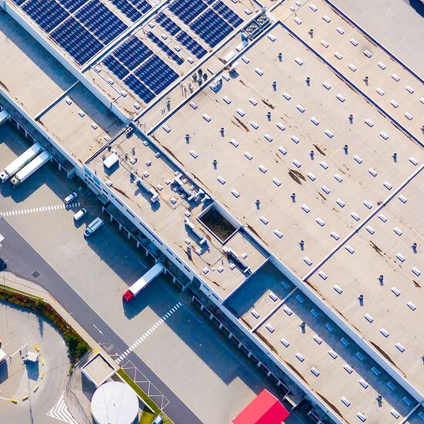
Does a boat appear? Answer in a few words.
No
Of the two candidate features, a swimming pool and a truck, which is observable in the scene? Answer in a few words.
truck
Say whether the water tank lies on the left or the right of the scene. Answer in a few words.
left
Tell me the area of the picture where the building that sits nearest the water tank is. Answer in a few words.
bottom left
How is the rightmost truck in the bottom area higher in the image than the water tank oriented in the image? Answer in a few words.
diagonally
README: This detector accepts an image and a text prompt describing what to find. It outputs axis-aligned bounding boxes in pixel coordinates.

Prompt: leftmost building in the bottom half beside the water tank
[80,353,117,389]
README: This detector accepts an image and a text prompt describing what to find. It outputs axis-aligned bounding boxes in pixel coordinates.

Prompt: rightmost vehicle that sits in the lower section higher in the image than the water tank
[121,265,163,303]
